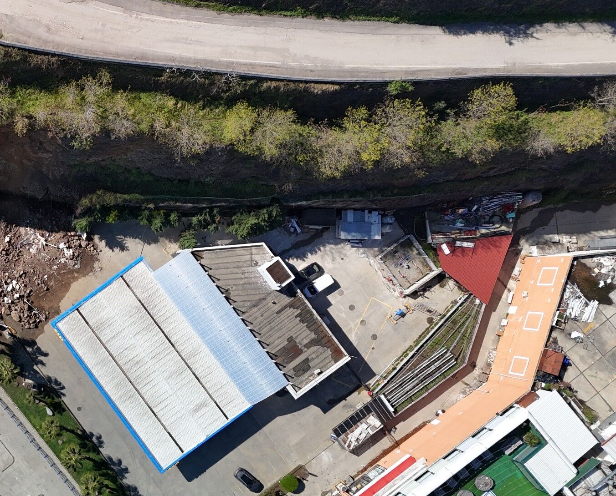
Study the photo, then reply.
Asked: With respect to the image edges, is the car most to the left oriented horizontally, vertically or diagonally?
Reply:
diagonally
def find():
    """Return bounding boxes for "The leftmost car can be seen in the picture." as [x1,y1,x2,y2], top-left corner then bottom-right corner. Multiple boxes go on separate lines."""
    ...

[236,466,262,494]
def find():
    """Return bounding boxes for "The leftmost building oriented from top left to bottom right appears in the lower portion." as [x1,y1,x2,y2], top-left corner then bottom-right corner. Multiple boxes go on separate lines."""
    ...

[175,241,353,399]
